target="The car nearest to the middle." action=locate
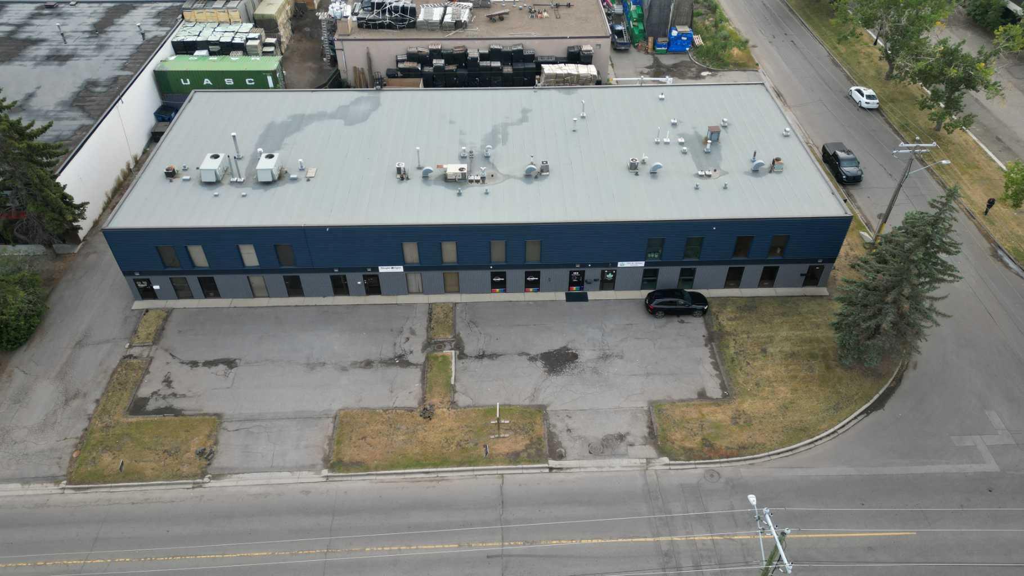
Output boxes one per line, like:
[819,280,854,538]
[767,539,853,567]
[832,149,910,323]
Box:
[645,288,709,318]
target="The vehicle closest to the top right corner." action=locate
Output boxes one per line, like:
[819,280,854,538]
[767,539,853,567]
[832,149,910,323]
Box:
[848,86,878,106]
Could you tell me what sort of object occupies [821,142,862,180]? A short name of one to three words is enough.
truck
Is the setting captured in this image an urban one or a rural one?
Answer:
urban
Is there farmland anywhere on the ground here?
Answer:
No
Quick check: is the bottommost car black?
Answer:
Yes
